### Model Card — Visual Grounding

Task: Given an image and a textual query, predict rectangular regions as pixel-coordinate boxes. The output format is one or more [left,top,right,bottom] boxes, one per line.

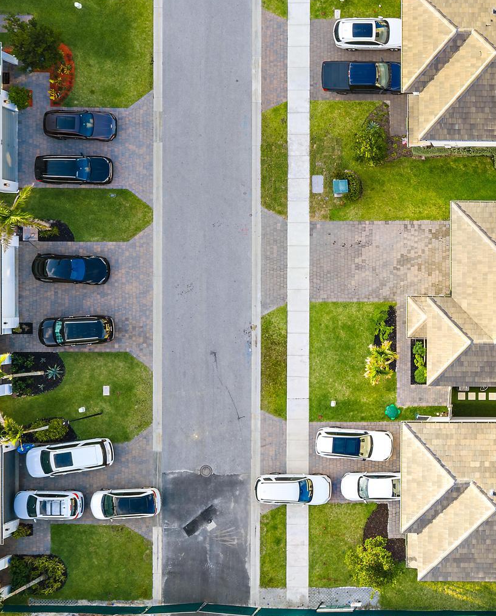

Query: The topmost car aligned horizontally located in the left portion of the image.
[43,107,122,142]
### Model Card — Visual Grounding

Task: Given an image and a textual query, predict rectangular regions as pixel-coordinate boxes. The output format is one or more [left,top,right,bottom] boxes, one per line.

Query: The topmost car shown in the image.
[333,14,399,52]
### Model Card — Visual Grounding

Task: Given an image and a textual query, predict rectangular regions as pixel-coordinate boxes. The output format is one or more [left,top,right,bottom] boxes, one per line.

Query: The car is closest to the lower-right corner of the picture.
[341,470,399,506]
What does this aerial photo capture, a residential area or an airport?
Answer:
residential area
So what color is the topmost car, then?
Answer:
white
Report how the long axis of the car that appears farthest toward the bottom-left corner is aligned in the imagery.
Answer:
from left to right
